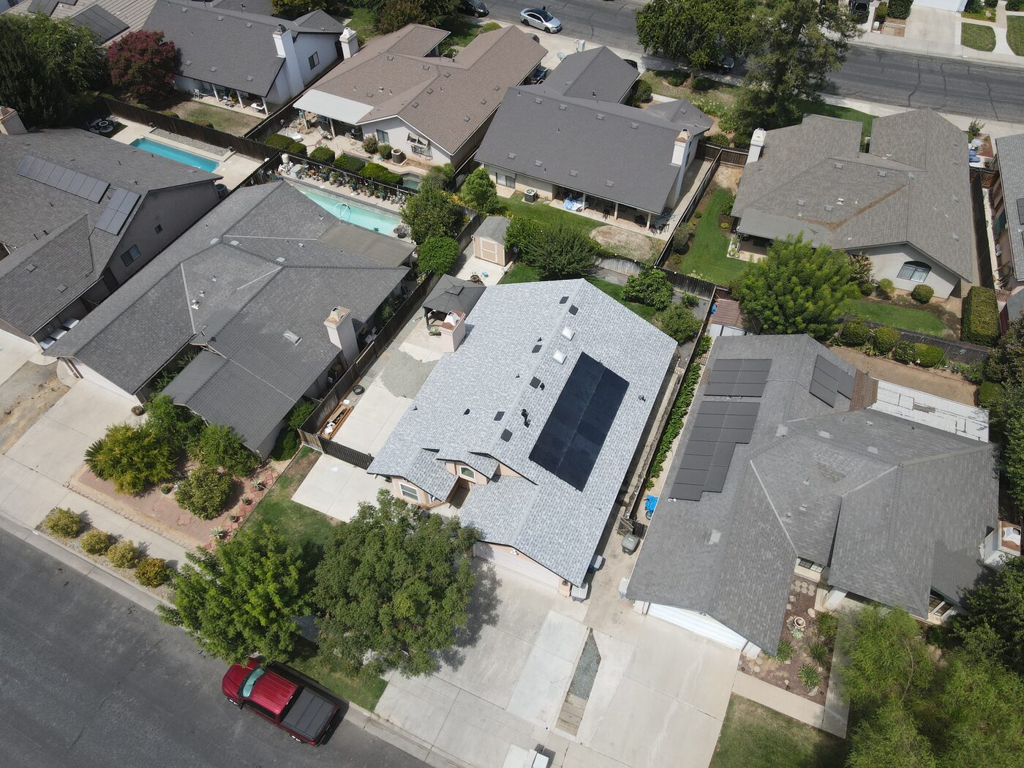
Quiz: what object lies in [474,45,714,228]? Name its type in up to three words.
house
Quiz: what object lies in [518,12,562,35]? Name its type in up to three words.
car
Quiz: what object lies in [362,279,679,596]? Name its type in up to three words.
house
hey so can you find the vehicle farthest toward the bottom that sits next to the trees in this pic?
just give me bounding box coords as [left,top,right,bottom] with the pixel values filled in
[219,658,346,752]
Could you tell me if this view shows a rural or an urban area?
urban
